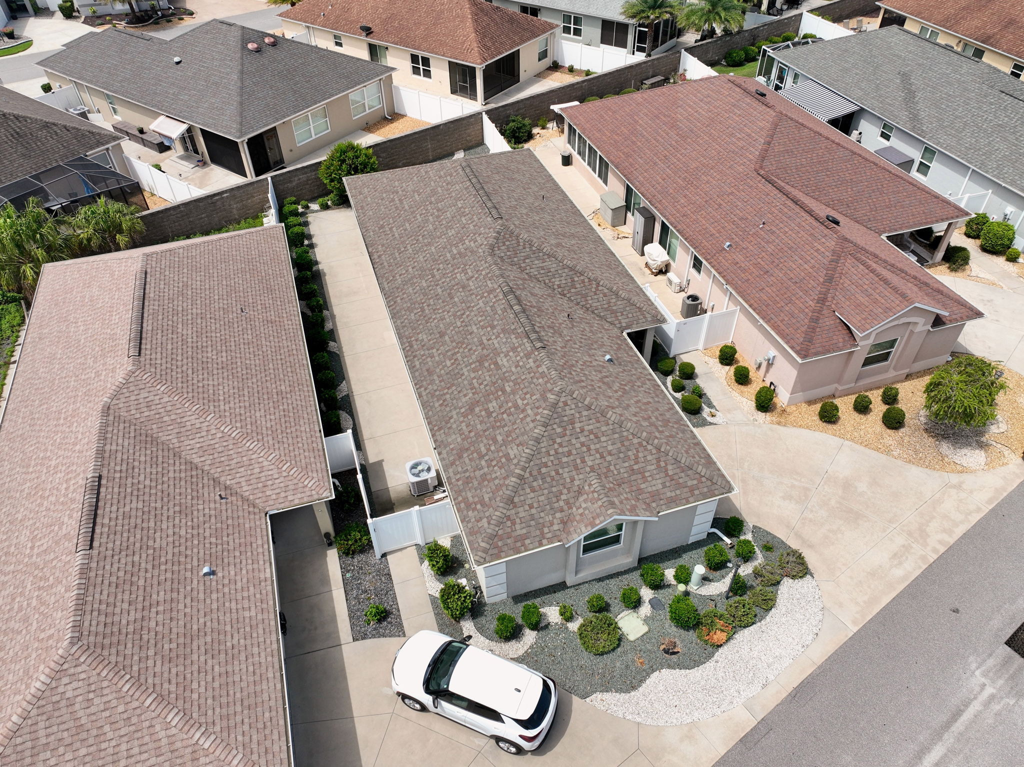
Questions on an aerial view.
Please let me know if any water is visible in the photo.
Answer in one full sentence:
No, the scene doesn't show any water.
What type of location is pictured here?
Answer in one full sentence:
The picture captures a residential area.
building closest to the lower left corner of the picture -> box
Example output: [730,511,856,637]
[0,224,341,767]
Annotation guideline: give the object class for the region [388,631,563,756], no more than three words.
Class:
car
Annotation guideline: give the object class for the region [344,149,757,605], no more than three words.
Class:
house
